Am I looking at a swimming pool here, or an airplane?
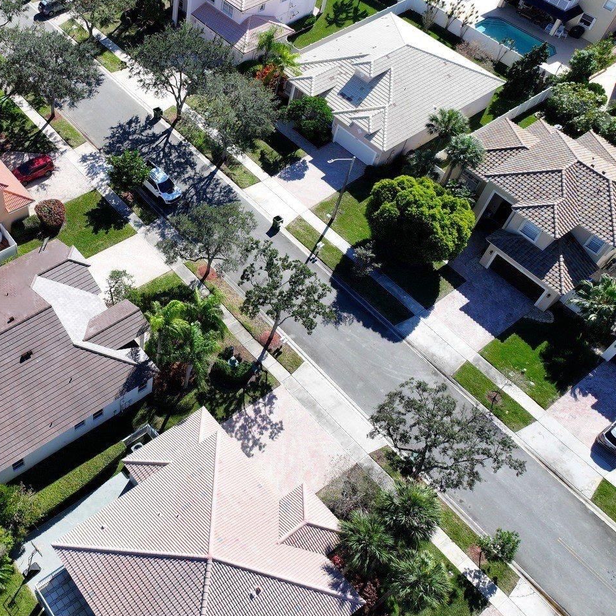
swimming pool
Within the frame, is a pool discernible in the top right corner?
Yes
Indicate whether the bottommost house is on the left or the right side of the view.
left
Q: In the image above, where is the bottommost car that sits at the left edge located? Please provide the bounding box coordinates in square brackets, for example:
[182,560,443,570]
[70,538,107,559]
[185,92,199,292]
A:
[11,151,60,188]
